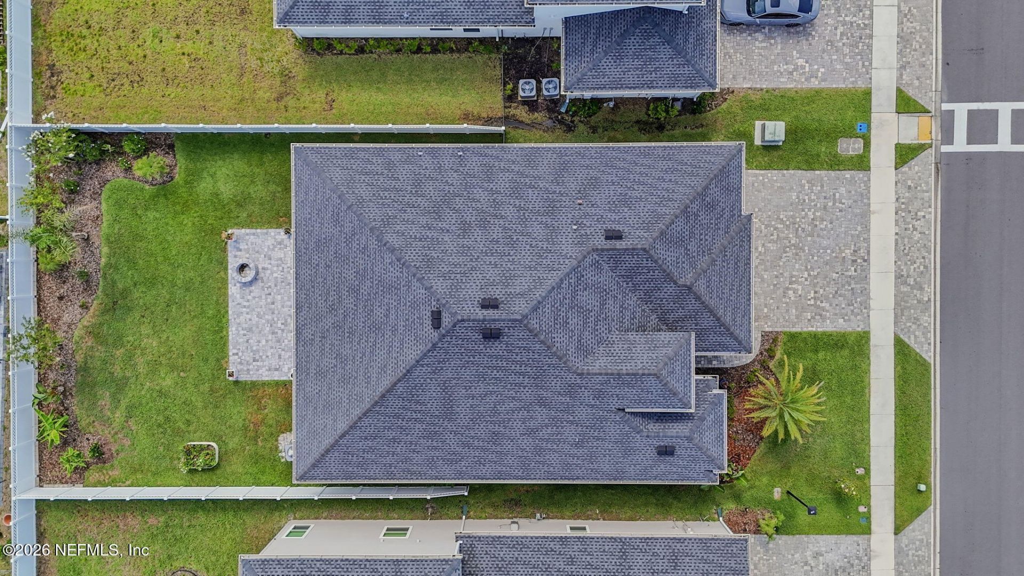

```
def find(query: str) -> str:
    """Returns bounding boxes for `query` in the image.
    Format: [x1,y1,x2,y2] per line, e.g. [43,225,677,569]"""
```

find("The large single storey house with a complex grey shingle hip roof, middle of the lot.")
[292,142,759,484]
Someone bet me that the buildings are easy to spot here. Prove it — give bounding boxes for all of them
[274,0,720,100]
[239,518,753,576]
[292,142,759,484]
